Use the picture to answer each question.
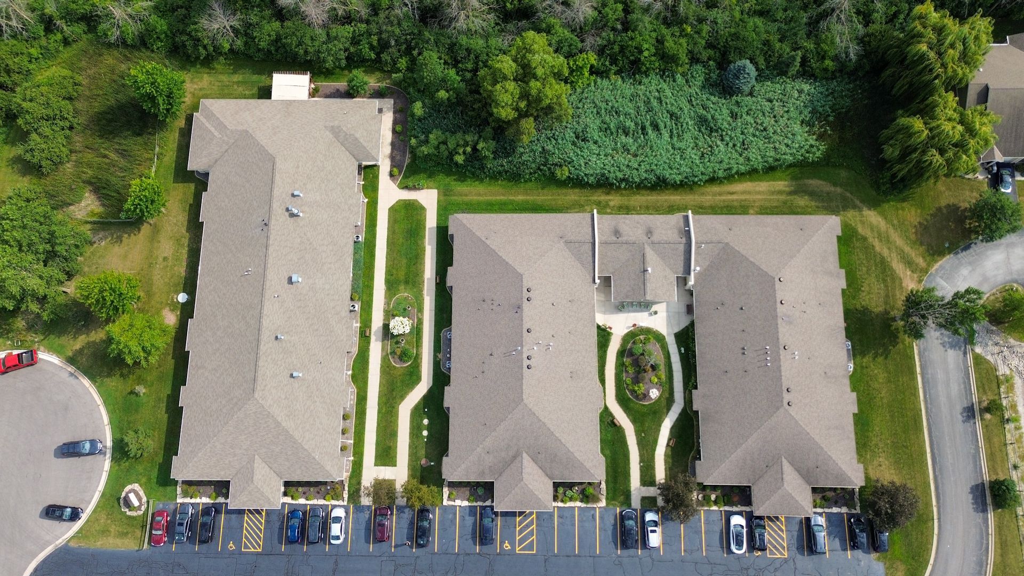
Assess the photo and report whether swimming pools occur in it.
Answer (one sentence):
No, the photo shows no swimming pool.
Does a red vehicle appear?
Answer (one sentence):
Yes, looking at the shot, I can spot a red vehicle.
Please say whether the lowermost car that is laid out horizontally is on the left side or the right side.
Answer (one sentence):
The lowermost car that is laid out horizontally sits on the left side.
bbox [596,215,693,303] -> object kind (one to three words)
building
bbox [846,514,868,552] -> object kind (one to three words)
car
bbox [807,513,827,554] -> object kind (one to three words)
car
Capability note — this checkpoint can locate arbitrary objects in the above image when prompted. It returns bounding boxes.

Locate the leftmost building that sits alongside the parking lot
[171,99,382,509]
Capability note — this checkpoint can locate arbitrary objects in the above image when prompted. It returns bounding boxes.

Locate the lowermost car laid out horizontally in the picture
[44,503,86,523]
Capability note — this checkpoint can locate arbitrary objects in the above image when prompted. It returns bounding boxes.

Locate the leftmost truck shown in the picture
[0,349,42,374]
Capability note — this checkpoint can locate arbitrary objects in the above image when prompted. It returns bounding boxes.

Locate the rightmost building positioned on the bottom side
[691,215,865,517]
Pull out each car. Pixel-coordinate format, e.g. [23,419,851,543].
[373,505,392,543]
[415,511,433,548]
[479,505,497,545]
[620,508,639,549]
[643,509,662,549]
[148,509,171,547]
[749,515,769,552]
[306,506,326,544]
[994,164,1016,195]
[60,439,104,457]
[197,505,218,544]
[286,508,305,543]
[807,513,827,554]
[846,514,868,552]
[728,513,748,554]
[174,503,195,544]
[869,515,891,556]
[44,503,86,523]
[328,505,347,545]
